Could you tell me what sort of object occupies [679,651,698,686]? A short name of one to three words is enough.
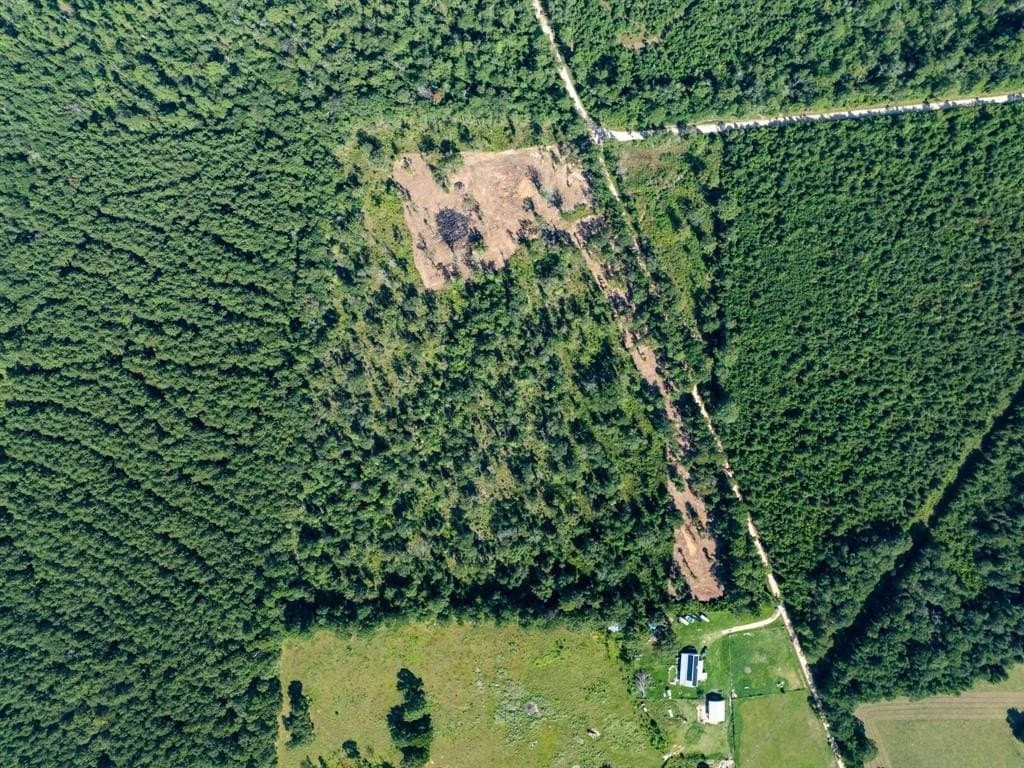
house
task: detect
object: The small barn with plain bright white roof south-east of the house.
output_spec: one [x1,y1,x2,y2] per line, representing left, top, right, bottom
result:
[708,698,725,722]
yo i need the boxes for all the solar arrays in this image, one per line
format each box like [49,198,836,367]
[693,655,698,684]
[688,655,694,679]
